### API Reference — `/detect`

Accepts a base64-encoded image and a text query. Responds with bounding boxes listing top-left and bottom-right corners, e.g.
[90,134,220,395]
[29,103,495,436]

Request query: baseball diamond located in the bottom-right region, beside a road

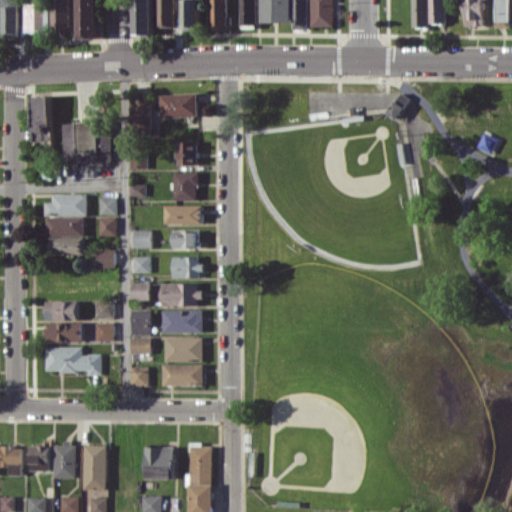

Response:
[252,264,494,512]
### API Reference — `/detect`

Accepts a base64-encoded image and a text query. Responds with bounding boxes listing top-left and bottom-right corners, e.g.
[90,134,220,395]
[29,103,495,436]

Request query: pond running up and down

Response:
[488,397,512,503]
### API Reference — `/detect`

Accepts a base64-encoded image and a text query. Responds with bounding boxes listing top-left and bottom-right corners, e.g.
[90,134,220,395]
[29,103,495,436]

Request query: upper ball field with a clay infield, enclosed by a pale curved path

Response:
[252,118,416,266]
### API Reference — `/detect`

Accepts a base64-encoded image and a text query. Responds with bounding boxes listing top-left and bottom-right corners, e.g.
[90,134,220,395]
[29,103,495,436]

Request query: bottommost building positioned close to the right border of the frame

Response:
[476,133,500,156]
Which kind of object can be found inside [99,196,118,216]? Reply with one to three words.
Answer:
building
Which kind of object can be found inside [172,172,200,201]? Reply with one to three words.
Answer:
house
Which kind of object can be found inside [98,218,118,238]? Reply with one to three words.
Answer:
building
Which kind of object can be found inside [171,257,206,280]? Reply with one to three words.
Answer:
house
